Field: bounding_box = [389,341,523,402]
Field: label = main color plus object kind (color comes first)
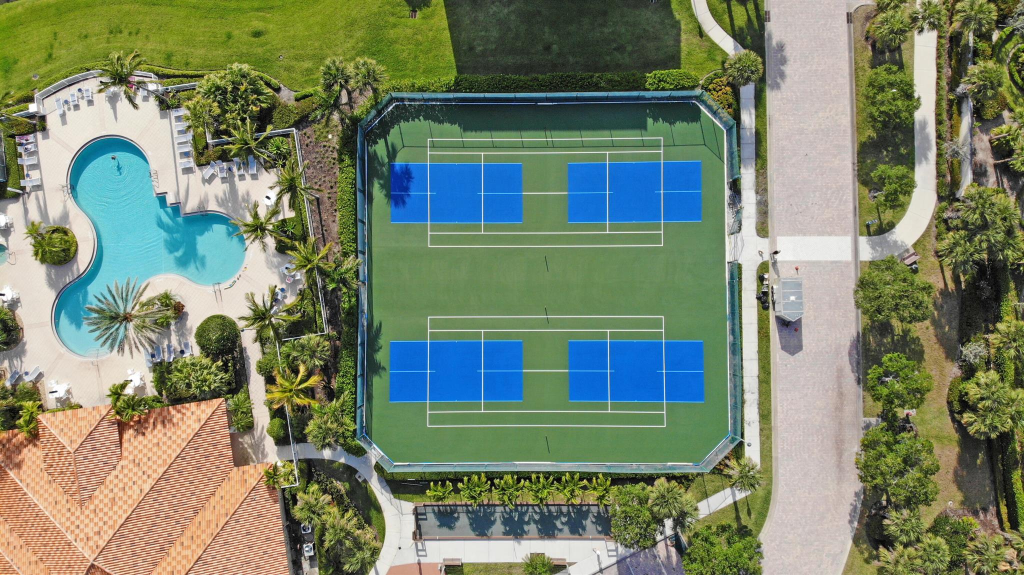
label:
blue sports court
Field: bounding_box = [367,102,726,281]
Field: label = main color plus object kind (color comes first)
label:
green tennis court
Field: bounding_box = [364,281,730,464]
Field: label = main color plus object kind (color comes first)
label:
green tennis court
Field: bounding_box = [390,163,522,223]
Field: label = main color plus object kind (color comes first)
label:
blue sports court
